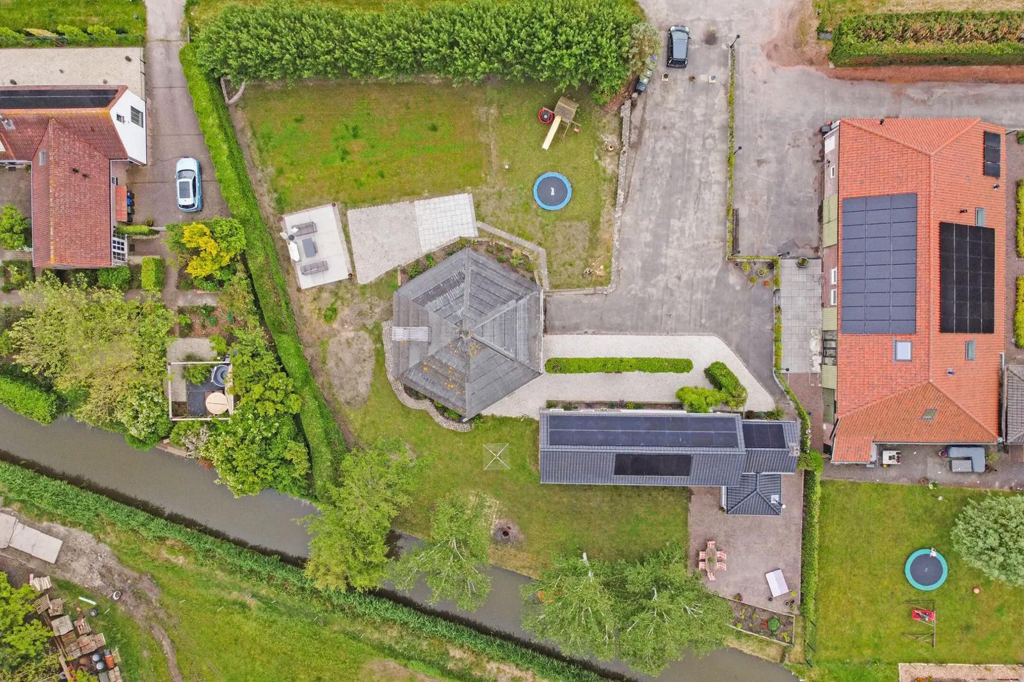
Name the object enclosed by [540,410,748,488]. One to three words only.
barn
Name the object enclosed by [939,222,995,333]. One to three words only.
solar array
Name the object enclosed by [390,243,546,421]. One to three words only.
barn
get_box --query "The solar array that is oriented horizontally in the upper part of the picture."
[0,88,120,109]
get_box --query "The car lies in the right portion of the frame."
[668,25,693,69]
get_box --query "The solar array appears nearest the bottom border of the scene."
[614,454,692,476]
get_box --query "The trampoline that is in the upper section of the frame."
[533,171,572,210]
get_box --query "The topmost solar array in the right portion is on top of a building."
[983,131,1001,176]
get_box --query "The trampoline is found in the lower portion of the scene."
[904,547,948,591]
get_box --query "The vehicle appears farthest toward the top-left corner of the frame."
[174,159,204,211]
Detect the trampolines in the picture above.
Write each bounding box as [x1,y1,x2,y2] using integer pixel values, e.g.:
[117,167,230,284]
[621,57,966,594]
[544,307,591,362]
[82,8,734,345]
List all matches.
[904,547,948,591]
[533,171,572,210]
